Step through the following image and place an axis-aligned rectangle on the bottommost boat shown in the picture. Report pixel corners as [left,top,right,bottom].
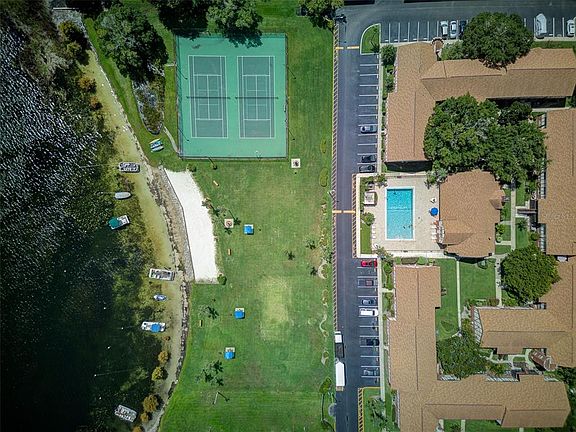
[114,404,137,422]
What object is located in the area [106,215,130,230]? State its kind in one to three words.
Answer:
boat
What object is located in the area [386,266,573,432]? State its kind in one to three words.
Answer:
building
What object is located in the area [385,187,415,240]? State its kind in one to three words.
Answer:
swimming pool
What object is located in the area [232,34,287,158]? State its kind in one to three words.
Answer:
tennis court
